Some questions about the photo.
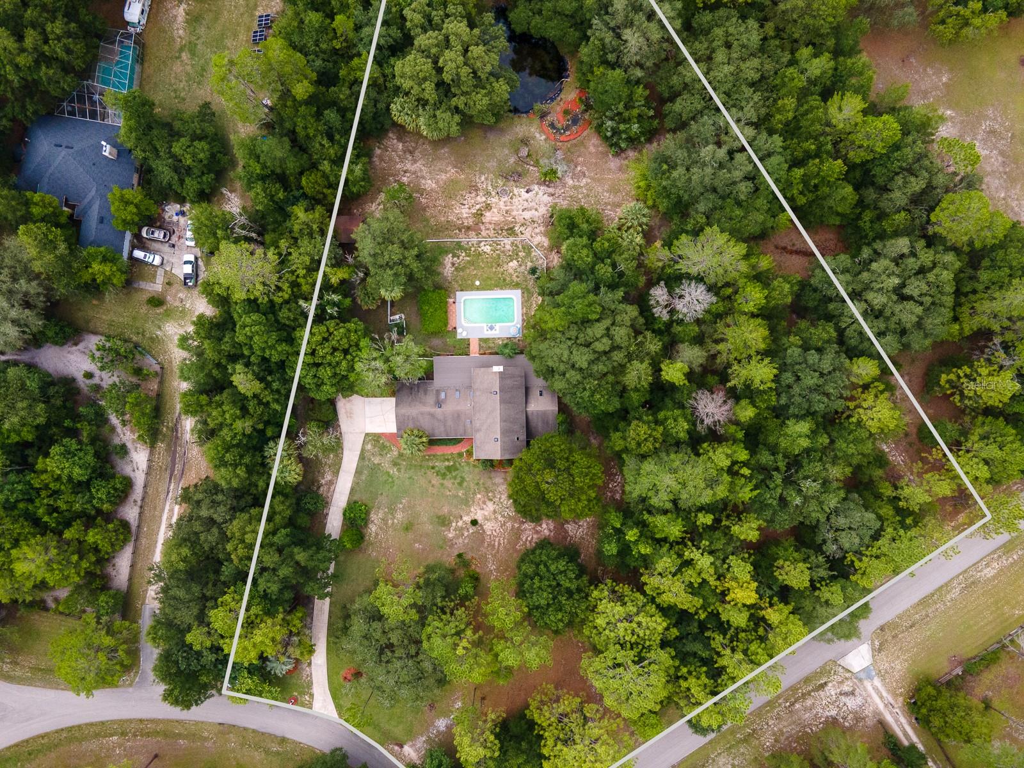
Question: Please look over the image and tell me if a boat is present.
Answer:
No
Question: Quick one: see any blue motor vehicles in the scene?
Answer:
No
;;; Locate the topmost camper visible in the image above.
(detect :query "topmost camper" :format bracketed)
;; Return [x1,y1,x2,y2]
[124,0,148,38]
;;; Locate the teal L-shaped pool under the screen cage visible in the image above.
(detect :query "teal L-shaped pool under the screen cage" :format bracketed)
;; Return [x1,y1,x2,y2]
[64,28,145,122]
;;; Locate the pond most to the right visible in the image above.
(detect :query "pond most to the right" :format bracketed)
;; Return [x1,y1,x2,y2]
[493,0,568,114]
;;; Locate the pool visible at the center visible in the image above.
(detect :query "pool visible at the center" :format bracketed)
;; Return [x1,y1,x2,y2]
[456,290,522,339]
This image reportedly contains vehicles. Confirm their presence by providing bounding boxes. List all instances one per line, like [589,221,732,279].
[124,0,148,38]
[185,220,199,247]
[141,226,171,243]
[132,249,164,266]
[182,254,198,288]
